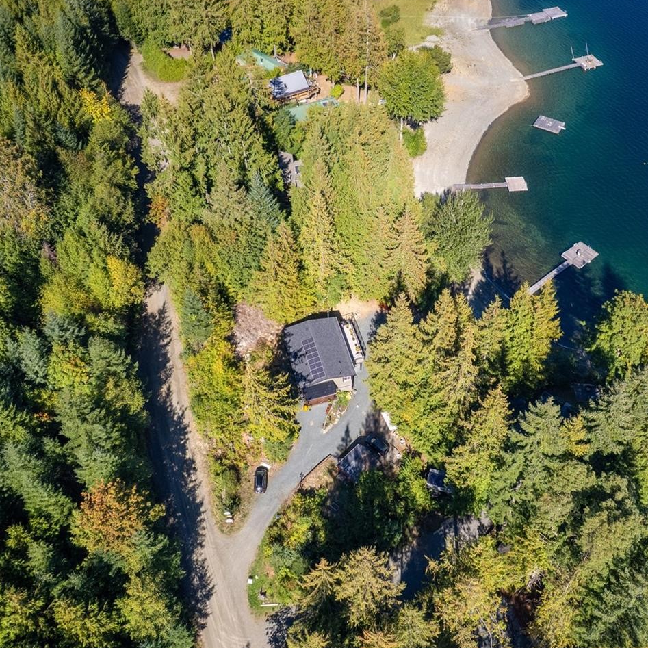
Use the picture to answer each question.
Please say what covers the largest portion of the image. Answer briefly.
trees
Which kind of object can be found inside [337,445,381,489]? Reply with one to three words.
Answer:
shed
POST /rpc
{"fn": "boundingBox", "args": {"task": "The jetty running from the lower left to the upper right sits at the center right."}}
[525,240,599,297]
